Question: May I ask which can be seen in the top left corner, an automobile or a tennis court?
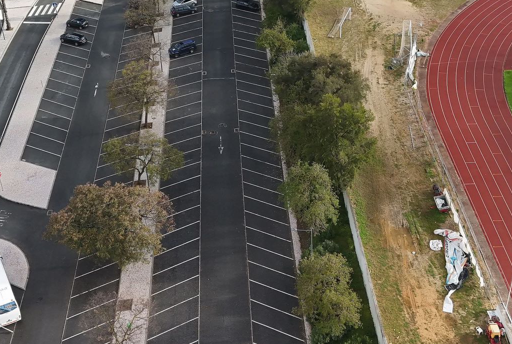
automobile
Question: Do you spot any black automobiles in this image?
Yes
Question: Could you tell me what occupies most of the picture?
paved ground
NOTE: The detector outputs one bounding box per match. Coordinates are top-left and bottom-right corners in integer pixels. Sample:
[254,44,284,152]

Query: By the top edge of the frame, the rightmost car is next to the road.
[231,0,261,12]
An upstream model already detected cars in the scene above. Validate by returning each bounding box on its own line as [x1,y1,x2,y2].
[63,17,91,32]
[57,32,89,48]
[170,0,198,7]
[167,4,199,20]
[165,36,199,58]
[231,0,261,12]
